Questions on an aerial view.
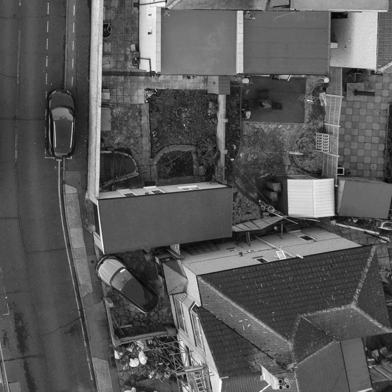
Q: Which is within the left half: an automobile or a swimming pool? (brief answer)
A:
automobile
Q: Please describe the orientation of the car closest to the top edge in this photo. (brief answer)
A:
from top to bottom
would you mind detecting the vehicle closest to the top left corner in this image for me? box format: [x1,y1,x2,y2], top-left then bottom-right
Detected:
[42,88,77,160]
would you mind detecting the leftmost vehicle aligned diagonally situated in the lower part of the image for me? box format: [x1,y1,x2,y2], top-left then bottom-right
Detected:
[97,252,159,319]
